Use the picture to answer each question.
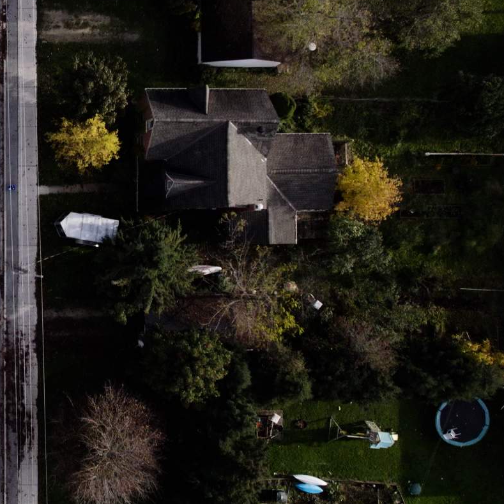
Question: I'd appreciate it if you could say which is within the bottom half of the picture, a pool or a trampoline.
trampoline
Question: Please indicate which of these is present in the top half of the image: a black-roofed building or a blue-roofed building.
black-roofed building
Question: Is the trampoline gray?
No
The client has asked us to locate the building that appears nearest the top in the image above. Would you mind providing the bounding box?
[193,0,280,66]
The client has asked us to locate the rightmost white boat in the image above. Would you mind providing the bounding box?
[293,474,328,487]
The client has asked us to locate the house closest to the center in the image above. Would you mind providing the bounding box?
[127,79,342,244]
